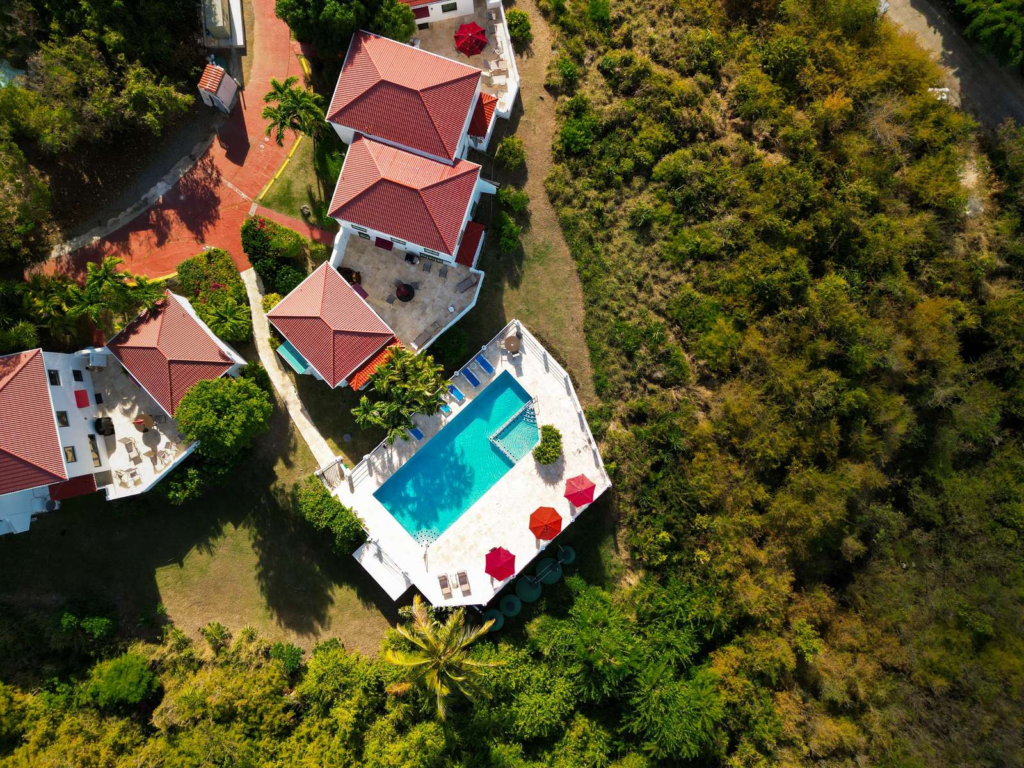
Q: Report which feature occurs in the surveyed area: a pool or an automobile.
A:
pool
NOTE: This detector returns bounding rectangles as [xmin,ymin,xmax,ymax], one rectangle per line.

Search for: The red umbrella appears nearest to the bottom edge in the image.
[485,546,515,581]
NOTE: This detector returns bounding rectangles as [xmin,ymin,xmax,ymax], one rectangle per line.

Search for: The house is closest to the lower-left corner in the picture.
[0,347,112,534]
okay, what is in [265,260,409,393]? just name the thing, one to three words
building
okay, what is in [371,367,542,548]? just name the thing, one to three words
swimming pool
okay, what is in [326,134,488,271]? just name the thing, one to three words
house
